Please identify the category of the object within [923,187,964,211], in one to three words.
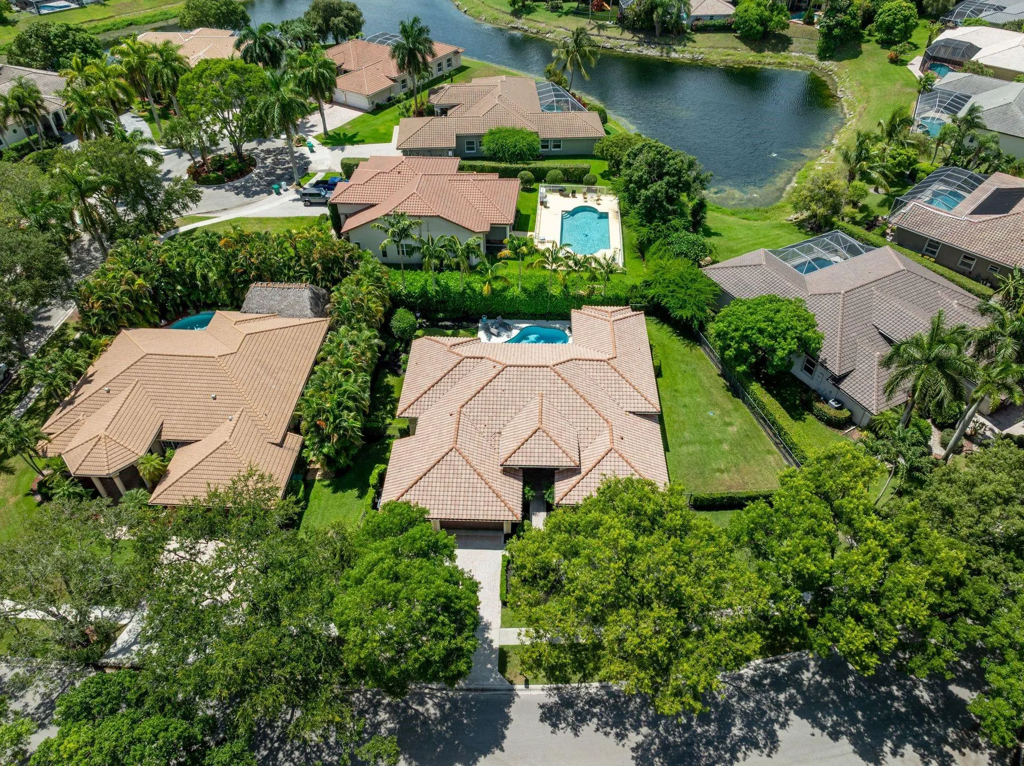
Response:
swimming pool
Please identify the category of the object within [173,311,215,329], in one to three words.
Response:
swimming pool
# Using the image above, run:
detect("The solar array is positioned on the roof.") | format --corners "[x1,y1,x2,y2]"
[904,182,1024,221]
